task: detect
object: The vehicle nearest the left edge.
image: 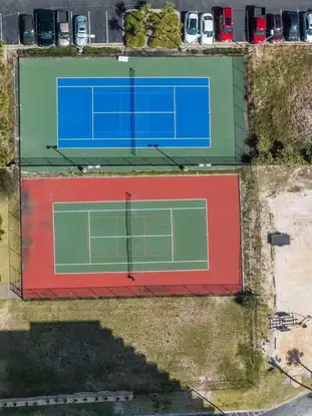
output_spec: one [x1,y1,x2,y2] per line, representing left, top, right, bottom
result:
[22,13,37,46]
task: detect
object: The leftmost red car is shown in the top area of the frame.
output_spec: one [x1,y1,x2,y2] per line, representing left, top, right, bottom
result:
[217,7,235,43]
